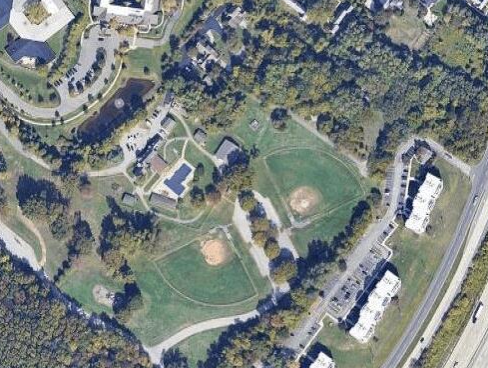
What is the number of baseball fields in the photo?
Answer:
2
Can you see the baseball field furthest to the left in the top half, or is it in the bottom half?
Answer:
bottom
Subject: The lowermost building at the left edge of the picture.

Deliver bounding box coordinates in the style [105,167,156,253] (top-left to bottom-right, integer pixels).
[6,38,55,63]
